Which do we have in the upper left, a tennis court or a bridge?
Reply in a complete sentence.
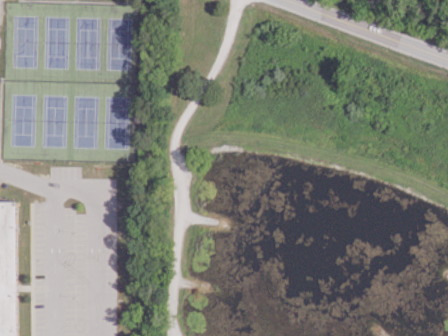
There is a tennis court in the upper left.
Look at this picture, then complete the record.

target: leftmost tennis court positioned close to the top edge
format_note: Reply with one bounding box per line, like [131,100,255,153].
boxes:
[12,16,39,70]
